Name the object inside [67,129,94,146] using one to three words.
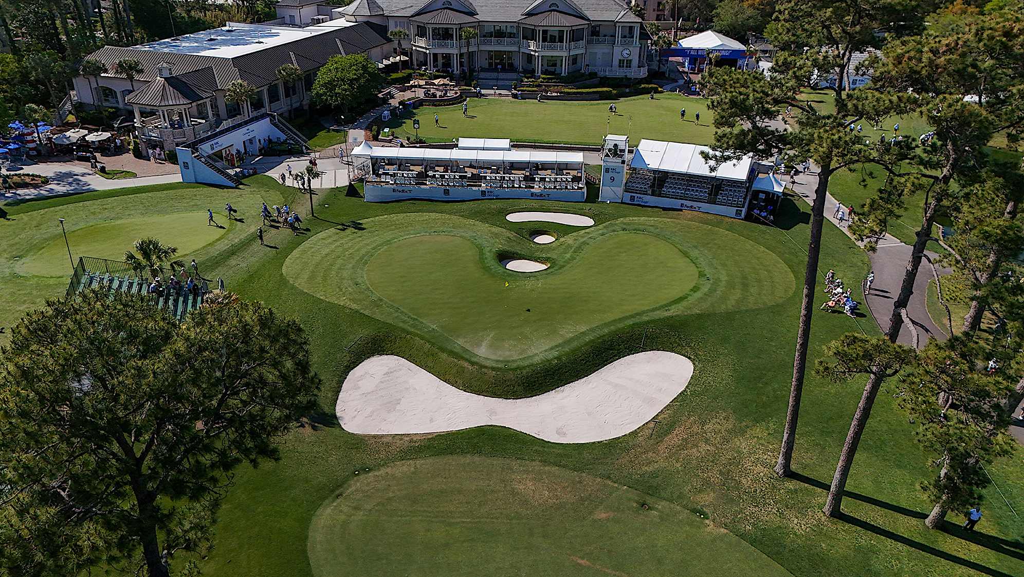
umbrella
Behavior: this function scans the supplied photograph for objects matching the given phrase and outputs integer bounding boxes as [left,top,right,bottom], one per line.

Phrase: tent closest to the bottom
[748,175,787,222]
